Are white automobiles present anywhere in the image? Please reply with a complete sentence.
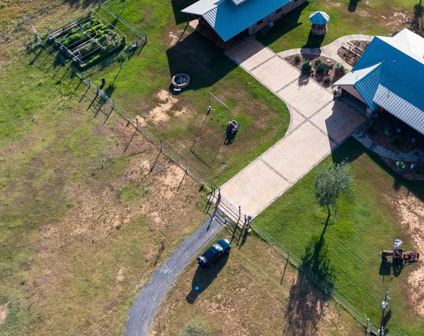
No, this view has no white automobile in it.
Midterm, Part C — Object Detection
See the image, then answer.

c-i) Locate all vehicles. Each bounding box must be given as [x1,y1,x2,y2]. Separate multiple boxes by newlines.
[193,240,231,270]
[389,249,416,268]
